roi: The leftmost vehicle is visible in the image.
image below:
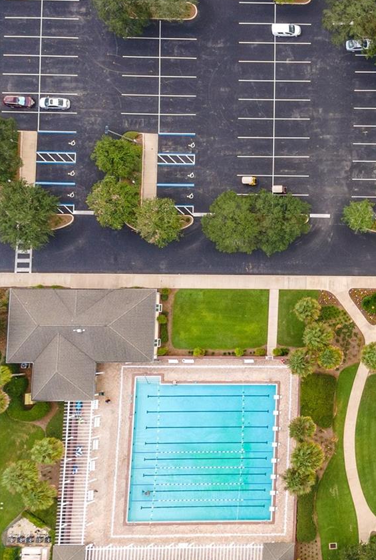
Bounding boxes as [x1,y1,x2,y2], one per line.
[4,95,35,109]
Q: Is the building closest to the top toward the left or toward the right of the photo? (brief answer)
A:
left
